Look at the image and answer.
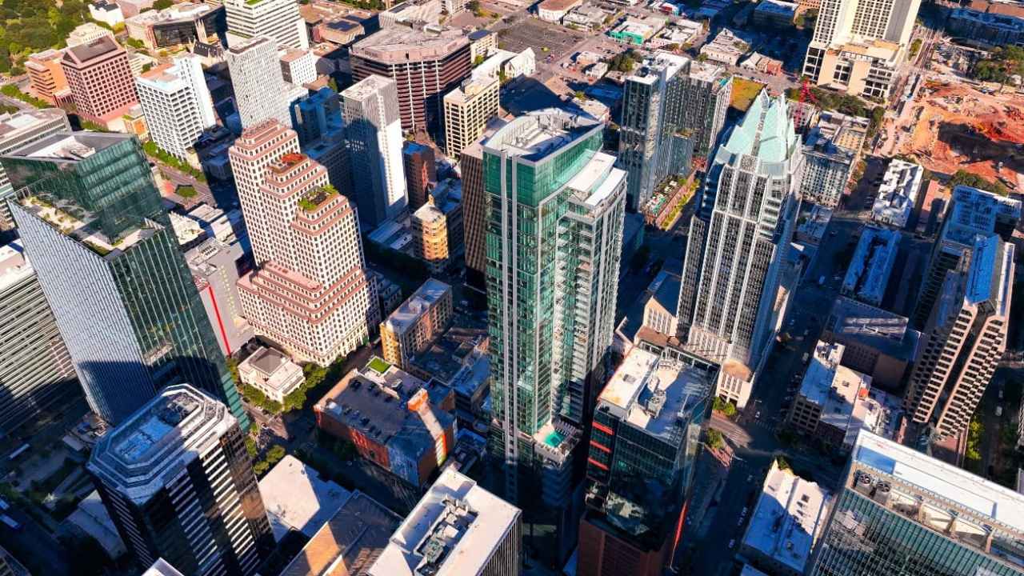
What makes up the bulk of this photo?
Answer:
buildings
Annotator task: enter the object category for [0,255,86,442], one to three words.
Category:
building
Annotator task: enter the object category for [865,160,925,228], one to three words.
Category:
building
